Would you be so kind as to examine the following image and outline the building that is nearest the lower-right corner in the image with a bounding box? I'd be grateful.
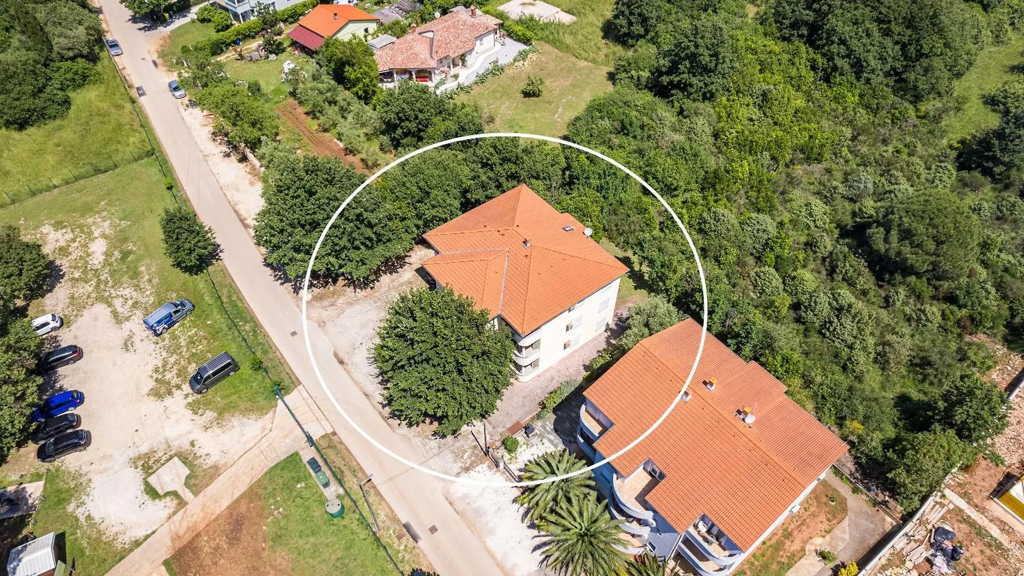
[573,316,850,576]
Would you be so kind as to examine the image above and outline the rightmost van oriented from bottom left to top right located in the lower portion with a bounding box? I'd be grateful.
[188,348,240,395]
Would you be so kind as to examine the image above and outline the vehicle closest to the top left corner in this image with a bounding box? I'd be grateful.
[105,37,124,57]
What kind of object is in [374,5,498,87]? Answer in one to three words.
house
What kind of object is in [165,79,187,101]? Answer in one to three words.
car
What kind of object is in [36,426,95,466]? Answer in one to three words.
car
